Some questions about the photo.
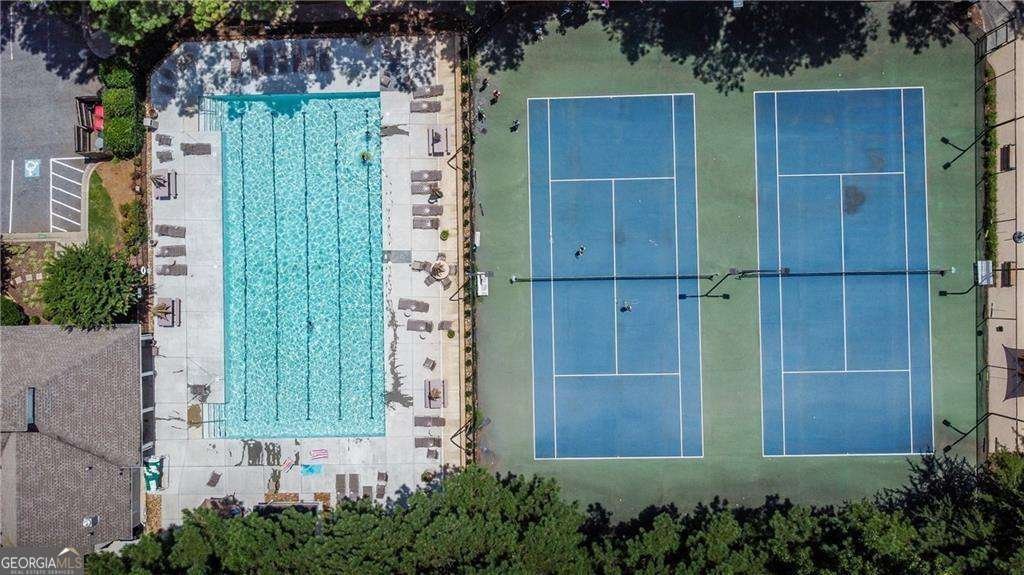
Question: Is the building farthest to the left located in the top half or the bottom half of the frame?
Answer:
bottom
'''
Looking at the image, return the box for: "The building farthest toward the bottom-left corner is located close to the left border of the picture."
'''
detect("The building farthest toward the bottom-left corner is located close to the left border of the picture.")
[0,324,154,575]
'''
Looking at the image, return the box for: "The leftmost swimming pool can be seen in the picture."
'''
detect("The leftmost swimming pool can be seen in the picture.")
[199,88,389,442]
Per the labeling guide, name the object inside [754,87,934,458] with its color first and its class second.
blue tennis court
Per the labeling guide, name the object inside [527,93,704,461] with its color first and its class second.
blue tennis court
